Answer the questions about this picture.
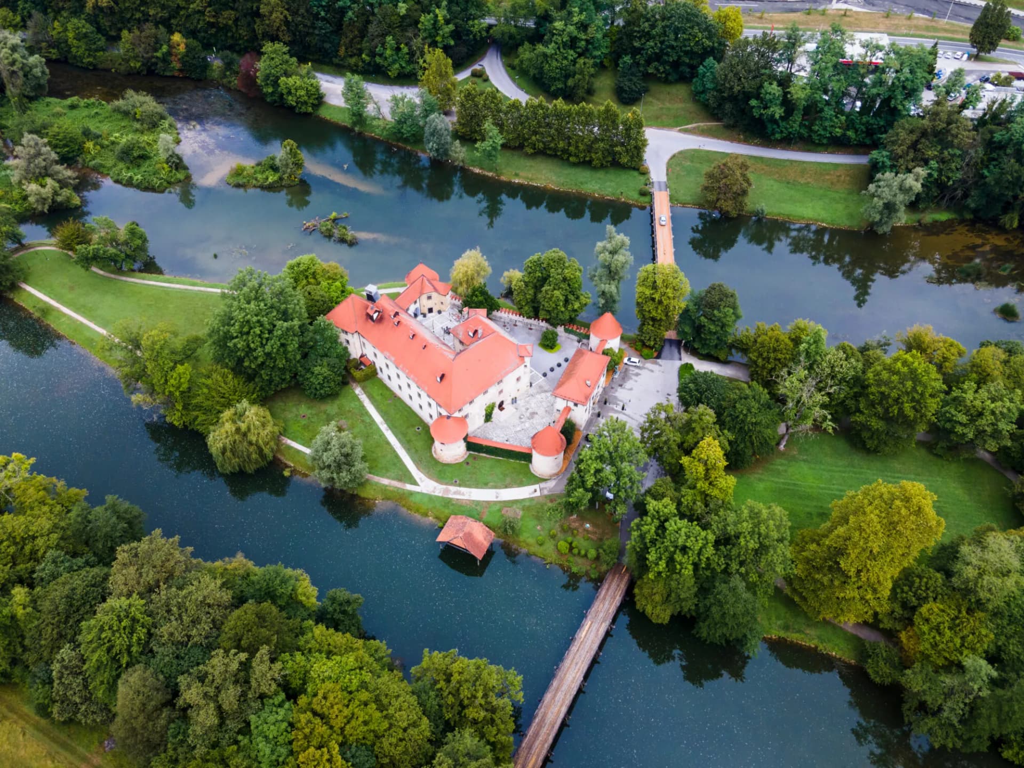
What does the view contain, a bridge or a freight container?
bridge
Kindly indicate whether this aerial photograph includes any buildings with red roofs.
Yes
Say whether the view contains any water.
Yes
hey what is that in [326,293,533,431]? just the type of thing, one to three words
building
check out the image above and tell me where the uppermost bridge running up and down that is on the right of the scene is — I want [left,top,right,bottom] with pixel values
[651,189,682,339]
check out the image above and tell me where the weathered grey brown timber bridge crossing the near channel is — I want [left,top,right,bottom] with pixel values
[510,564,631,768]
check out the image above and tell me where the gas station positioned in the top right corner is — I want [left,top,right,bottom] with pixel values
[800,33,887,71]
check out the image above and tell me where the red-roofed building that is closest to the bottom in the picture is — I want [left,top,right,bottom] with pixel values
[436,516,495,565]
